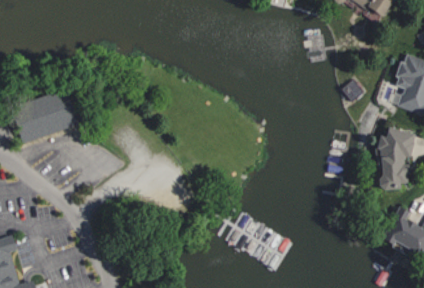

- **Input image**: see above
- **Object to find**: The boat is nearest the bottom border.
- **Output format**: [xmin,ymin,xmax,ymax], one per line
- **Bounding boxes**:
[376,271,390,288]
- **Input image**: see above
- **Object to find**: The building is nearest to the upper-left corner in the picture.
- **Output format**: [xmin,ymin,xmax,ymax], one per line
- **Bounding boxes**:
[19,99,70,140]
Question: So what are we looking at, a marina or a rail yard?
marina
